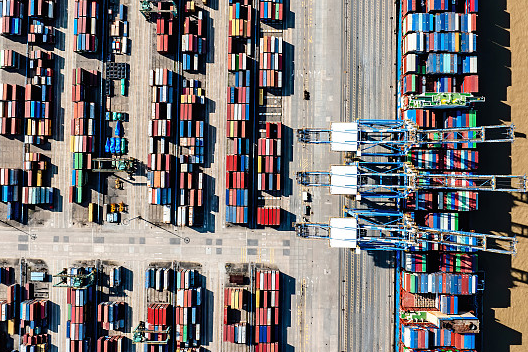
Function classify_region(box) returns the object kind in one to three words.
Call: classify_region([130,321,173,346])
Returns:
container crane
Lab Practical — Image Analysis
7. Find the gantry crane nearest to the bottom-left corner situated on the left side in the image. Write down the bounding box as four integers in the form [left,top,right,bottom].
[52,267,97,289]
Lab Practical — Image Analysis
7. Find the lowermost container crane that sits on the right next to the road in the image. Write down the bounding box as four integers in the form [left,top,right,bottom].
[294,205,512,256]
